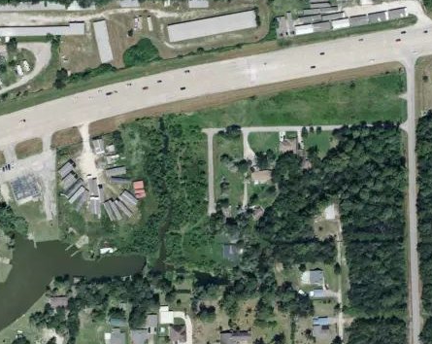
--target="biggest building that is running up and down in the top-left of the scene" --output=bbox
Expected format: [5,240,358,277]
[94,19,113,64]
